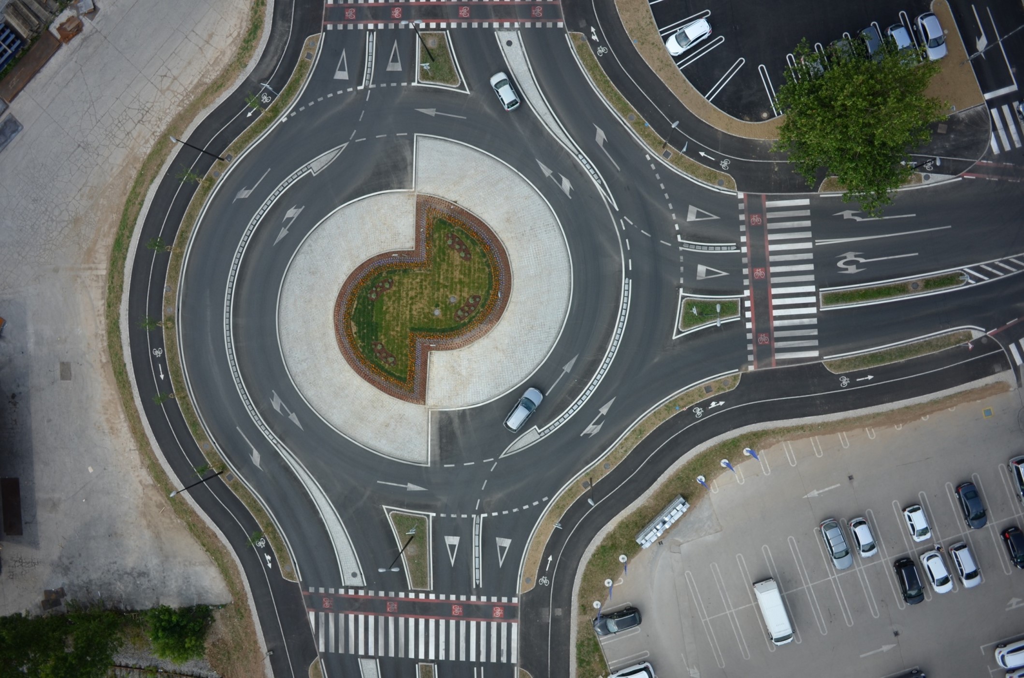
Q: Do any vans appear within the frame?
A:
Yes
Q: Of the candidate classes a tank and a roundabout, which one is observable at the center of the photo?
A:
roundabout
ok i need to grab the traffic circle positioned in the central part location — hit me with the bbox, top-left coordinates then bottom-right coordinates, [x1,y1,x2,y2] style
[223,30,631,587]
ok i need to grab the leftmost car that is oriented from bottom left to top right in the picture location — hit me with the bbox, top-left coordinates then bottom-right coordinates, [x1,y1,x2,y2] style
[503,387,544,434]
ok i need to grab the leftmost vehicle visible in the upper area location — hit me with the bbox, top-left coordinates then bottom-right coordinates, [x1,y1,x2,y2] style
[489,69,522,115]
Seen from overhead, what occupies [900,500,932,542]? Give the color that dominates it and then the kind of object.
white car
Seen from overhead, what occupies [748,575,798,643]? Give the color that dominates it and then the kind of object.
white van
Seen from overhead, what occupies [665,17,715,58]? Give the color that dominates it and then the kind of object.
white car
